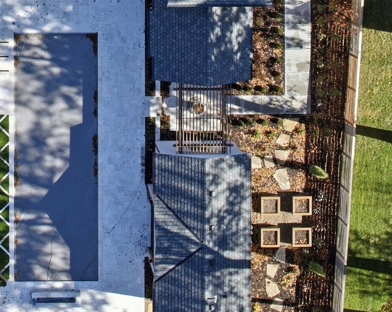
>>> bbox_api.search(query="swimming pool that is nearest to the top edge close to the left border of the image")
[10,33,98,285]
